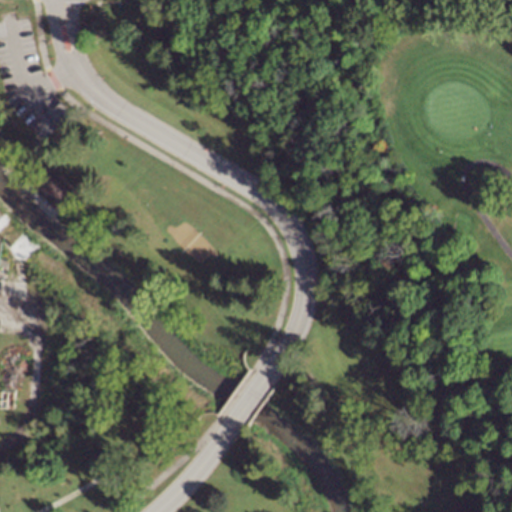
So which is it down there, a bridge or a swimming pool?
bridge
